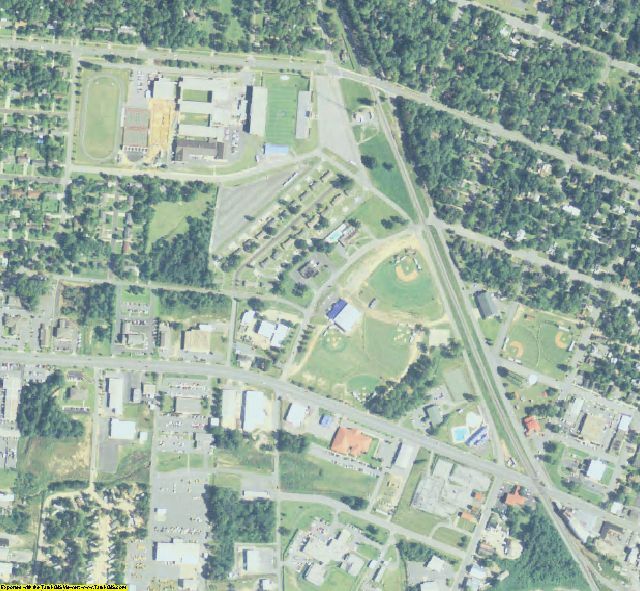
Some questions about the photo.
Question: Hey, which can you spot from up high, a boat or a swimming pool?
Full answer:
I can see a swimming pool in this picture.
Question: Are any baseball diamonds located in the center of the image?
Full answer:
Yes, looking in the center of the image, one can make out a baseball diamond.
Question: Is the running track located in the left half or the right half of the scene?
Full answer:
The running track is on the left side of the image.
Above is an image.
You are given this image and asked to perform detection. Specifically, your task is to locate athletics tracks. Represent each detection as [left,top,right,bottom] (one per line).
[79,74,126,162]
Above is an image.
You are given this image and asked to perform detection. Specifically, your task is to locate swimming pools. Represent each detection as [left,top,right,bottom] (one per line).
[325,224,347,244]
[451,426,470,443]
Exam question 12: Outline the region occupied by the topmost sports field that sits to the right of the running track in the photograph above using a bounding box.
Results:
[264,74,311,143]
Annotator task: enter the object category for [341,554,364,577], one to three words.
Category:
building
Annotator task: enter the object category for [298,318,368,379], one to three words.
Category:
baseball field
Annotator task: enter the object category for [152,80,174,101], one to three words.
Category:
building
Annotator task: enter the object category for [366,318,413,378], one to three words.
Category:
baseball field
